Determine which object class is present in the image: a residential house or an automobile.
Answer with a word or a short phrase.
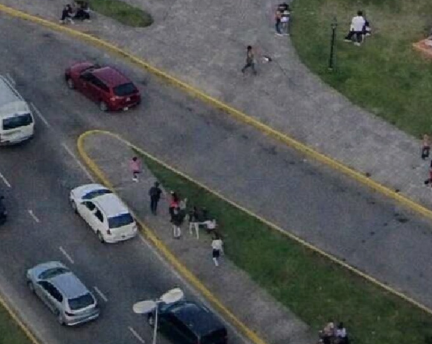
automobile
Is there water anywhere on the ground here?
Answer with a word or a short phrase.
No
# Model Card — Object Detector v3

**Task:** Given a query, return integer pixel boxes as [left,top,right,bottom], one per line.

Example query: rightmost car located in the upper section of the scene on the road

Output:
[56,55,139,109]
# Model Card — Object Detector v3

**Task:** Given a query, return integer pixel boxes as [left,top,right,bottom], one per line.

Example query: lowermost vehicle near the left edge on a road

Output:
[19,252,101,321]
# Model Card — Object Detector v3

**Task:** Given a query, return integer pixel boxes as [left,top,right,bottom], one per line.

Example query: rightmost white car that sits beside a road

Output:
[62,178,135,239]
